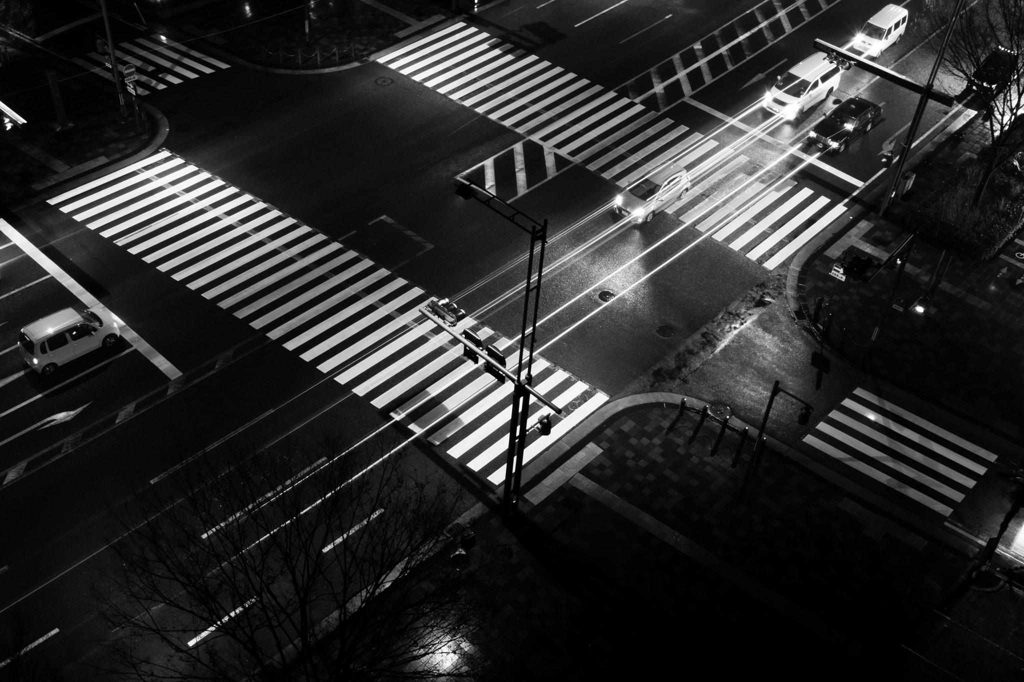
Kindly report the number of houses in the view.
zero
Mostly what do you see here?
paved ground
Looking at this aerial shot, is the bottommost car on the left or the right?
left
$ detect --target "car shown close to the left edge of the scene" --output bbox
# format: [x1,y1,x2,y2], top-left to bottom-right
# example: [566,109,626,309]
[15,302,119,376]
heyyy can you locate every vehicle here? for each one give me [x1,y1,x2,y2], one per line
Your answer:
[611,154,694,223]
[803,89,884,150]
[15,302,119,376]
[756,49,838,118]
[847,0,917,54]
